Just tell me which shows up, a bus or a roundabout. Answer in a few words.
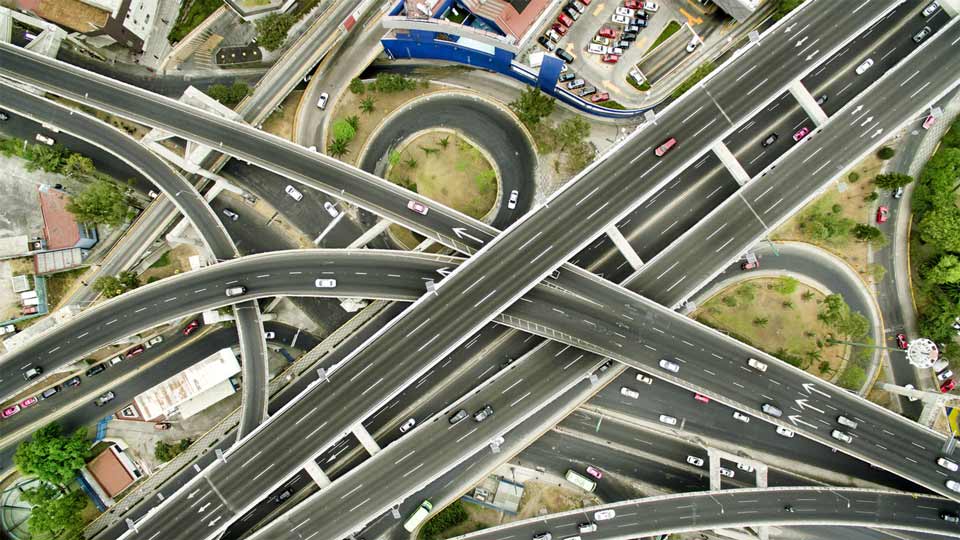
bus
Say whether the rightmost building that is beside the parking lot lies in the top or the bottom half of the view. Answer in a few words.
top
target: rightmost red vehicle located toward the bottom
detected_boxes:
[937,378,956,392]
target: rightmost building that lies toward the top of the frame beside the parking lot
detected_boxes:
[705,0,763,34]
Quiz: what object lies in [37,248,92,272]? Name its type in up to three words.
shed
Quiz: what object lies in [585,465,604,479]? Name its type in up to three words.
car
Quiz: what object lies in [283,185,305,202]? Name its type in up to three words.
vehicle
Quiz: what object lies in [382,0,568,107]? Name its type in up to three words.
building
